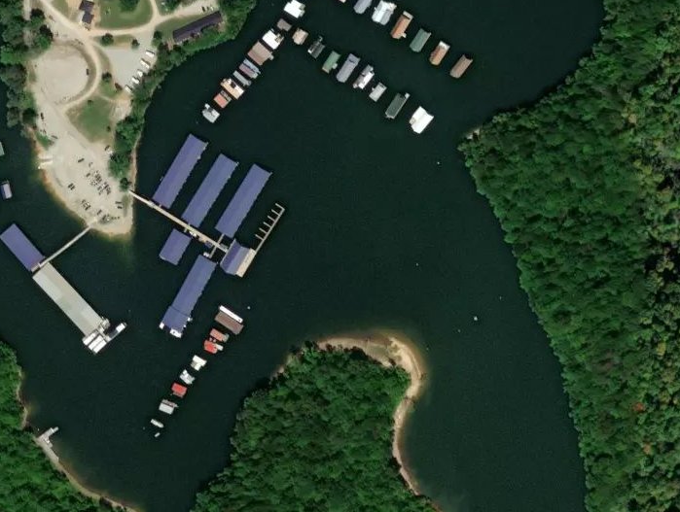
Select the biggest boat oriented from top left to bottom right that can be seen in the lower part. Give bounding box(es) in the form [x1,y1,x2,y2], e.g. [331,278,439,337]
[215,310,244,334]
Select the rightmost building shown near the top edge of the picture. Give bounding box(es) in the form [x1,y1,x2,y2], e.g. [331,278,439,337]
[173,10,223,43]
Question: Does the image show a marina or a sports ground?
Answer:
marina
